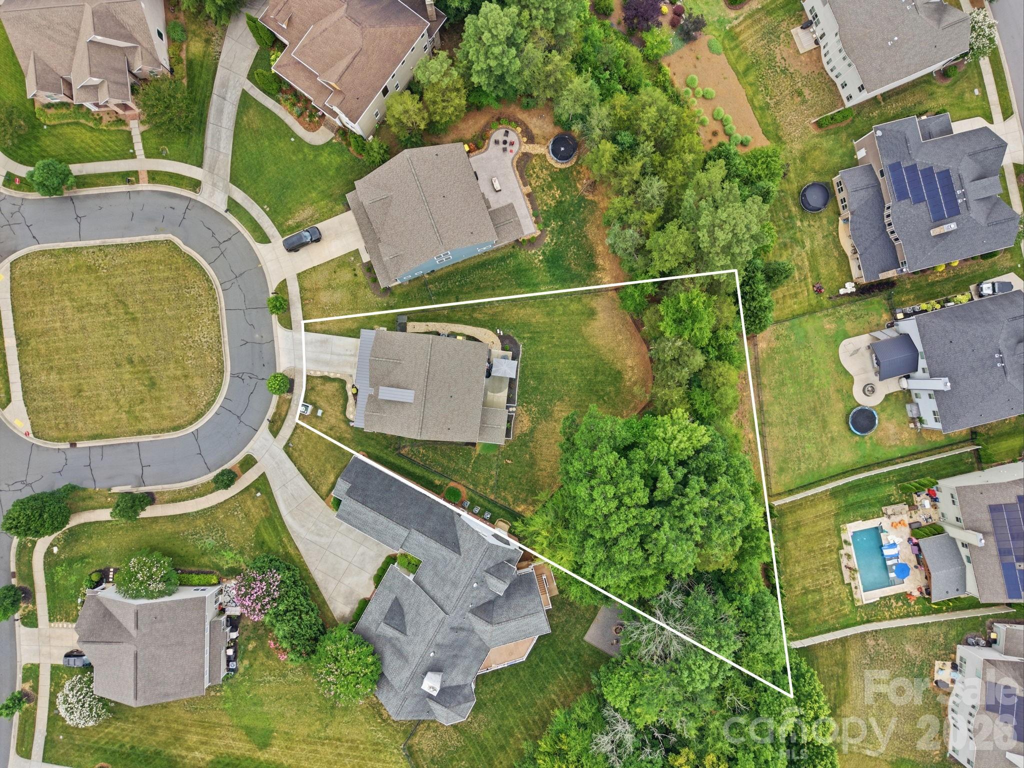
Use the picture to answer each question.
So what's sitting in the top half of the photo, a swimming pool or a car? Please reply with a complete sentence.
Looking in the top half of the photo, you will find a car.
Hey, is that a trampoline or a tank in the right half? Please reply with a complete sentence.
There is a trampoline in the right half.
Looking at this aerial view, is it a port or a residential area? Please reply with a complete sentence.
The area seen from above is a residential area.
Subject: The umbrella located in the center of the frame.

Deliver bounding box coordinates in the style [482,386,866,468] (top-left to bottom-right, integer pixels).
[491,358,517,379]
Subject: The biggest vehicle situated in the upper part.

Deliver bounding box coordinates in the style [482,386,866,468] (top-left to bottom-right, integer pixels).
[279,226,321,253]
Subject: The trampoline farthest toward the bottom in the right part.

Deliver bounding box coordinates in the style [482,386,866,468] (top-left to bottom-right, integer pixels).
[852,406,881,436]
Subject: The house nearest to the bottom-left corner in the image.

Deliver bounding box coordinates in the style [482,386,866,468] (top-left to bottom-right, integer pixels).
[74,582,234,708]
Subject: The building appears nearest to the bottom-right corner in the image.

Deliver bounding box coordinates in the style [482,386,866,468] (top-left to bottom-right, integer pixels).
[949,622,1024,768]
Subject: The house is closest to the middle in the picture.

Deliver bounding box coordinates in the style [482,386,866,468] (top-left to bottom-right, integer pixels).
[353,329,509,445]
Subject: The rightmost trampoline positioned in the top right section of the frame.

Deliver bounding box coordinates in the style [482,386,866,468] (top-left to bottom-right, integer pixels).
[803,179,838,212]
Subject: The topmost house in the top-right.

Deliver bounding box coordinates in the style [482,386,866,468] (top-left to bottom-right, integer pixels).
[801,0,971,108]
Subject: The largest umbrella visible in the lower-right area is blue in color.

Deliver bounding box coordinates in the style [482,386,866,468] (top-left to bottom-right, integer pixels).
[892,562,911,579]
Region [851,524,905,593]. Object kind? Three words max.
swimming pool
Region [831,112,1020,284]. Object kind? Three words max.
house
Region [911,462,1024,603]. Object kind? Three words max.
building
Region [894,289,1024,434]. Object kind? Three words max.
house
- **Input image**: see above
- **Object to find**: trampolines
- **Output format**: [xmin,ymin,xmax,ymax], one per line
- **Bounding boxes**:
[803,179,838,212]
[548,131,578,163]
[852,406,881,436]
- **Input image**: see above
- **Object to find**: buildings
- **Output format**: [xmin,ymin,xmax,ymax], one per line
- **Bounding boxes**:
[831,112,1020,284]
[0,0,181,122]
[949,622,1024,768]
[894,289,1024,434]
[74,582,234,708]
[911,462,1024,603]
[346,142,525,289]
[257,0,444,137]
[353,329,509,445]
[332,455,560,726]
[801,0,971,108]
